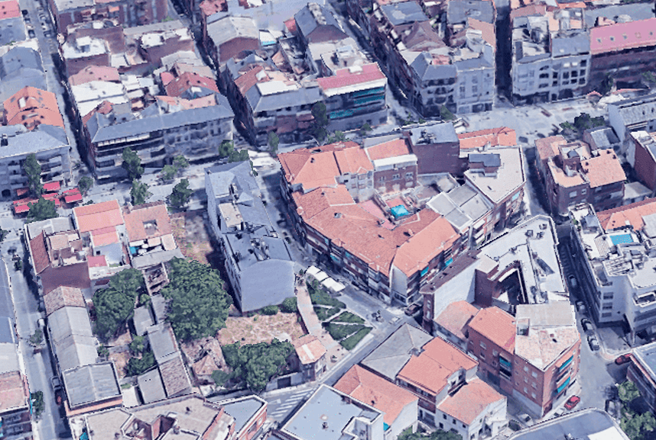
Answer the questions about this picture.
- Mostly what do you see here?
buildings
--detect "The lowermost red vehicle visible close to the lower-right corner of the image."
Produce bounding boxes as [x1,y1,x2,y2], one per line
[565,397,580,410]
